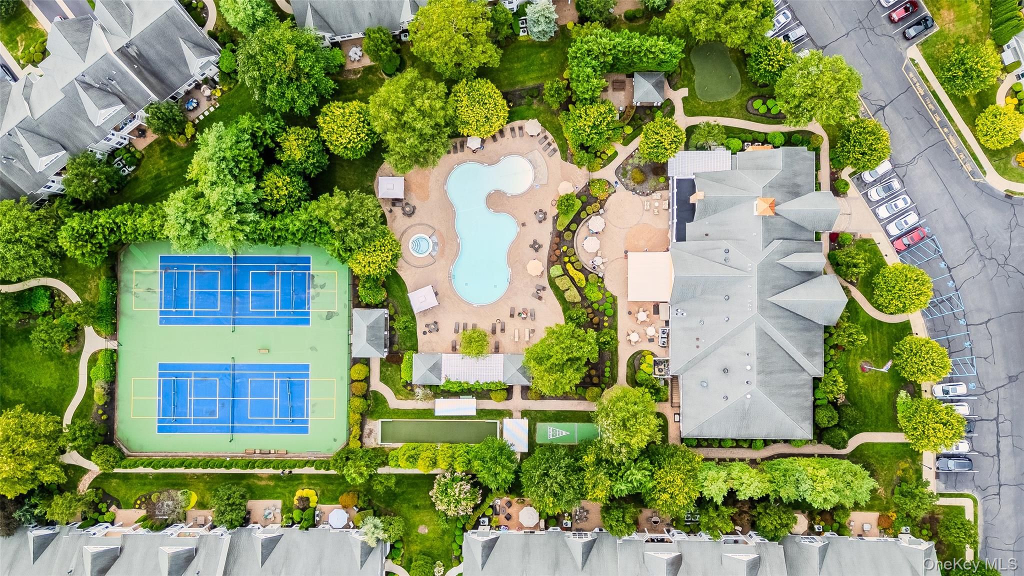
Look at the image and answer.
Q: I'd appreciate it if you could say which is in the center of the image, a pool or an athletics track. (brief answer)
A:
pool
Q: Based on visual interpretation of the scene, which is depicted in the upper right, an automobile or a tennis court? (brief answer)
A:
automobile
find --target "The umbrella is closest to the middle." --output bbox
[527,260,543,276]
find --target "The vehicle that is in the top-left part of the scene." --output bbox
[47,3,67,21]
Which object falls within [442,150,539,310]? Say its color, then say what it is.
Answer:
white swimming pool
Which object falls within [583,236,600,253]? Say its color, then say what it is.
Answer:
white umbrella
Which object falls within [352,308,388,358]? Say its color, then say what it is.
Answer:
white gazebo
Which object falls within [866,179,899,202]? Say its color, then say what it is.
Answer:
white car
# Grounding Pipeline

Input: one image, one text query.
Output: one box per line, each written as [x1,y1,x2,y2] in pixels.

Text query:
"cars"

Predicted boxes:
[964,419,972,432]
[892,229,925,252]
[866,179,899,202]
[876,196,908,219]
[764,13,792,36]
[950,402,969,414]
[901,16,934,41]
[951,439,970,453]
[859,158,896,185]
[936,456,970,472]
[885,212,918,235]
[931,382,965,397]
[47,3,67,21]
[886,0,918,24]
[782,24,807,43]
